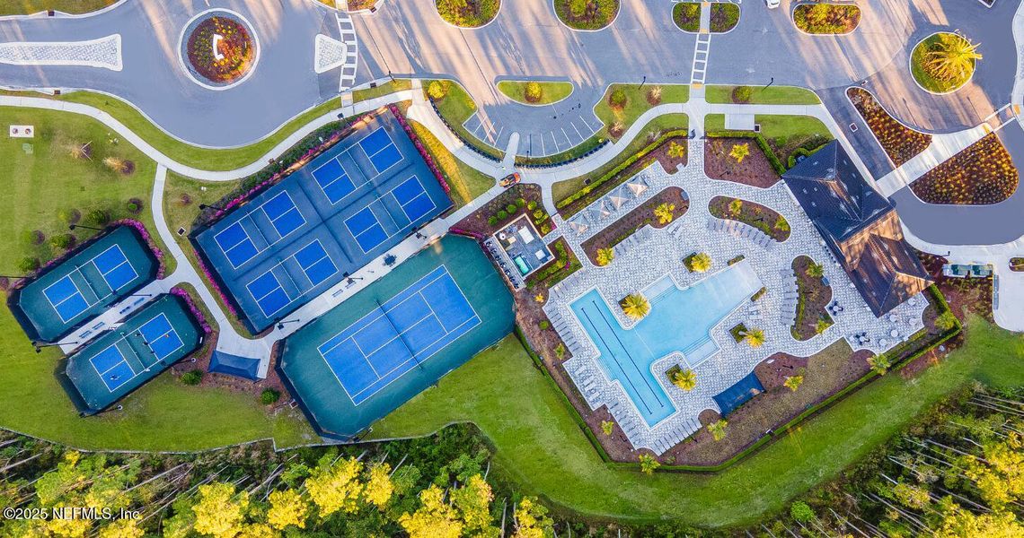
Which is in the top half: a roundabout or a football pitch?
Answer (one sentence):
There is a roundabout in the top half.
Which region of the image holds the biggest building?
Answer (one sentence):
You can find the biggest building in the right area of the picture.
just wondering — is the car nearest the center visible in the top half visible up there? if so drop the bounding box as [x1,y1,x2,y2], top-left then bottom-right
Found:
[498,170,522,189]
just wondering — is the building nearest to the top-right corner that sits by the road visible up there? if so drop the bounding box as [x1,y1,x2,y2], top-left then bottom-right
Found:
[776,138,933,319]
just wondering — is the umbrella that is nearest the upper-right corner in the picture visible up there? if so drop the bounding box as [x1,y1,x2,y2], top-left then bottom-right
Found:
[627,176,647,196]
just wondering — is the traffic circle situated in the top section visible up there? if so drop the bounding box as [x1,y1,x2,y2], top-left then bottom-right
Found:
[178,7,260,89]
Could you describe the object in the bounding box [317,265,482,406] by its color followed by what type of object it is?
blue tennis court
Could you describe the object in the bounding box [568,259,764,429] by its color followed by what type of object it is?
blue swimming pool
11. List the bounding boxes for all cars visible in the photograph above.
[498,170,522,189]
[768,0,781,8]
